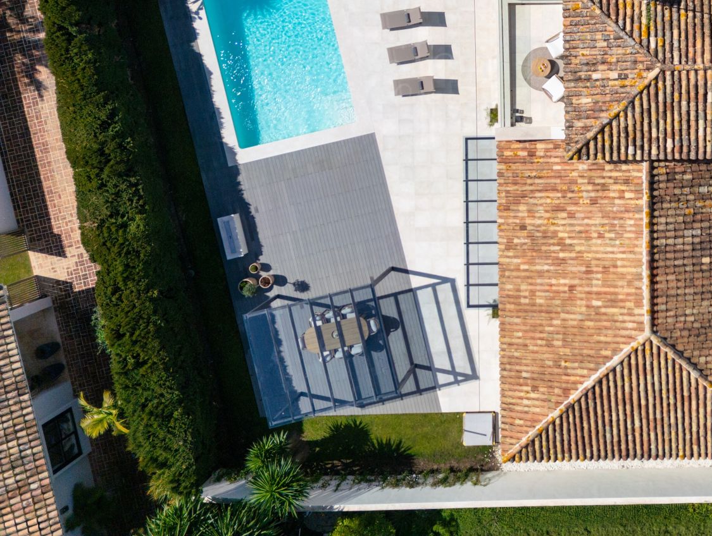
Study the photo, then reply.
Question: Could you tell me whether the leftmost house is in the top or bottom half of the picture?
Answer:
bottom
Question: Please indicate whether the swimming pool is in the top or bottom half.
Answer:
top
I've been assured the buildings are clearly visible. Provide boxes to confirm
[464,0,712,470]
[0,267,112,536]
